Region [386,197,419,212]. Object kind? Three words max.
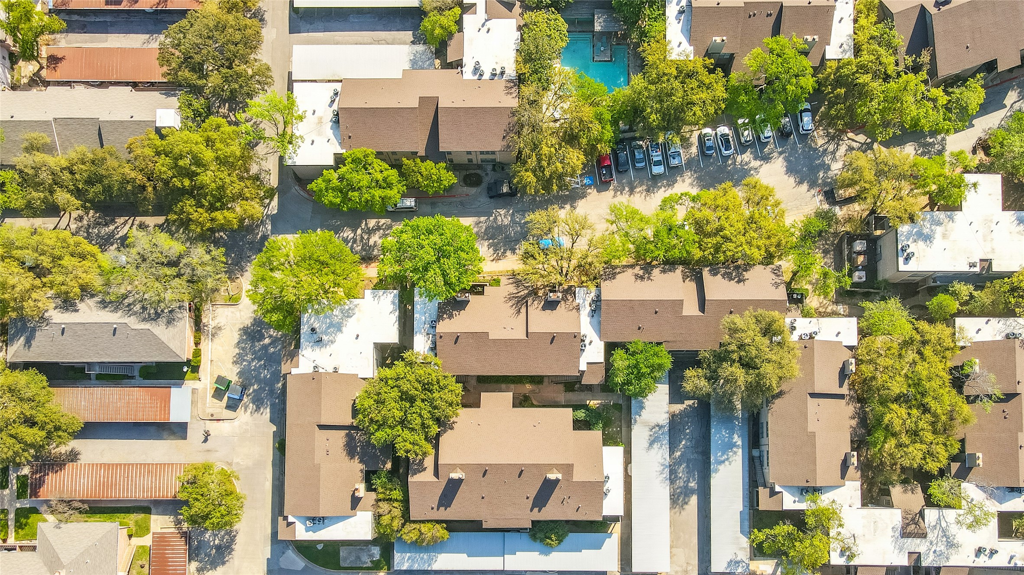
car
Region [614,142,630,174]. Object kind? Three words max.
car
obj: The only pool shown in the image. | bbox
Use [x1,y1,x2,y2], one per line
[524,16,642,147]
